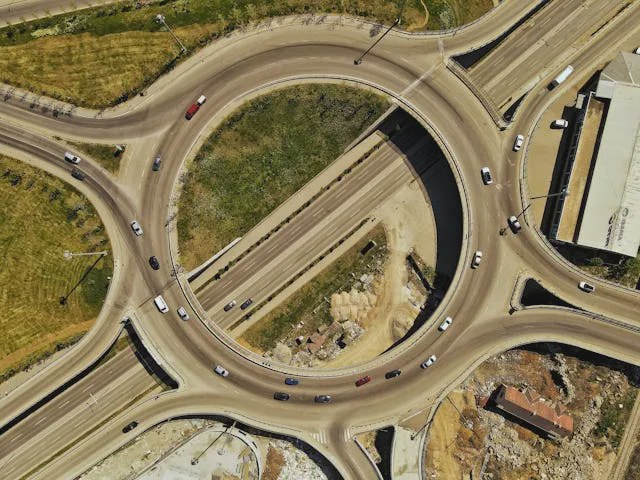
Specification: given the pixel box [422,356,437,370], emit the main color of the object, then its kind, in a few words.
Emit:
white car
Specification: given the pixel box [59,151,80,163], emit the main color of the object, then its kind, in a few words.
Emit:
white vehicle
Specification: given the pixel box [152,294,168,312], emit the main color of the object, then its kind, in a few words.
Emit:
white vehicle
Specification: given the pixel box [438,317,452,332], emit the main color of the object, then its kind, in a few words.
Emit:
white car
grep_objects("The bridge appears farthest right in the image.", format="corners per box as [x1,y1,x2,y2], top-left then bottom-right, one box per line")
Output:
[395,54,506,181]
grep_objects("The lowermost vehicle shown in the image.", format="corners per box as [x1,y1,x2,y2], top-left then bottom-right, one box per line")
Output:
[121,421,137,433]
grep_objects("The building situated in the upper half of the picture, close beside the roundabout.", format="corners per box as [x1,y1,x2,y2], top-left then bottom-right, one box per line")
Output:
[544,51,640,262]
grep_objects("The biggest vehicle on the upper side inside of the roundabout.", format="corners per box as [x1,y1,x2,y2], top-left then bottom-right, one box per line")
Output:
[181,92,204,119]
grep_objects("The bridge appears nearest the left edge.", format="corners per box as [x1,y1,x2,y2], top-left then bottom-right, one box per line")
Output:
[128,278,238,388]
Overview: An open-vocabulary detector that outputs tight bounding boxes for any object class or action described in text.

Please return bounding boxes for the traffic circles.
[1,24,521,442]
